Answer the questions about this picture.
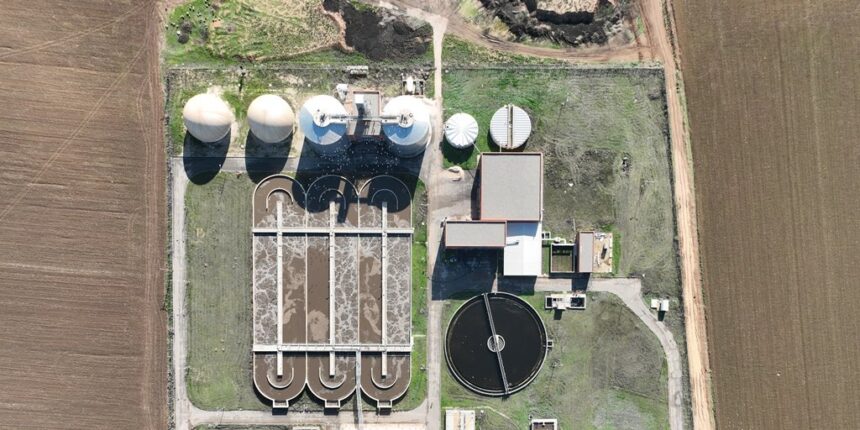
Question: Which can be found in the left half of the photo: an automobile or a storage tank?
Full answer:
What appears in the left half of the photo is a storage tank.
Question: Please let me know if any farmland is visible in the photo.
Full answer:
Yes, farmland can be seen from above here.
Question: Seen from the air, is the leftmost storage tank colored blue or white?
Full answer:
The color of the leftmost storage tank is white.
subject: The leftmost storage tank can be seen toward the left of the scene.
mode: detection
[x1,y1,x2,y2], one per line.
[181,92,241,144]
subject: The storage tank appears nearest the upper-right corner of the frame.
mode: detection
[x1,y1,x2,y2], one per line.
[489,104,531,149]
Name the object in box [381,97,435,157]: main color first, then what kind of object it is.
white storage tank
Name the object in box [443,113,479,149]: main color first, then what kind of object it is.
white storage tank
